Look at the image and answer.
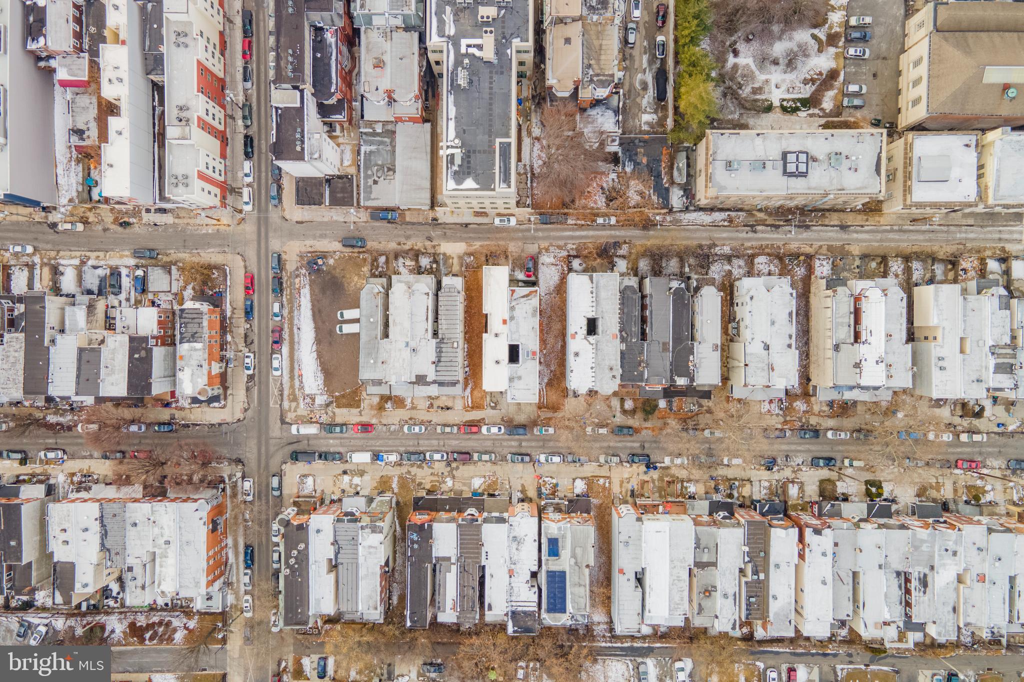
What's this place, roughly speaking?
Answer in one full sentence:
The area seen from above is a residential area.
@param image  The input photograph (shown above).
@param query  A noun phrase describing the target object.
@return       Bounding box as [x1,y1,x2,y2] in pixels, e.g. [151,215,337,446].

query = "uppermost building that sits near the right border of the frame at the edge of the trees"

[898,0,1024,129]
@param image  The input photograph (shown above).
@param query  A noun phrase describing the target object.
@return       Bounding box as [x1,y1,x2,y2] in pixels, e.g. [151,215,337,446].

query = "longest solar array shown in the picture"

[547,571,566,613]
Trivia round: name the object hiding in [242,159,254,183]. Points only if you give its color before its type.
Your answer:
white vehicle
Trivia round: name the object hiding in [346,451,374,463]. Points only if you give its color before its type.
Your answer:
white vehicle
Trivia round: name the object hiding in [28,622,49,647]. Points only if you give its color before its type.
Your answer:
white car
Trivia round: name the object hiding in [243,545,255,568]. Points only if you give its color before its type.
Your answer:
blue vehicle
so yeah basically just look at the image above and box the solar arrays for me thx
[548,538,558,557]
[547,571,566,613]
